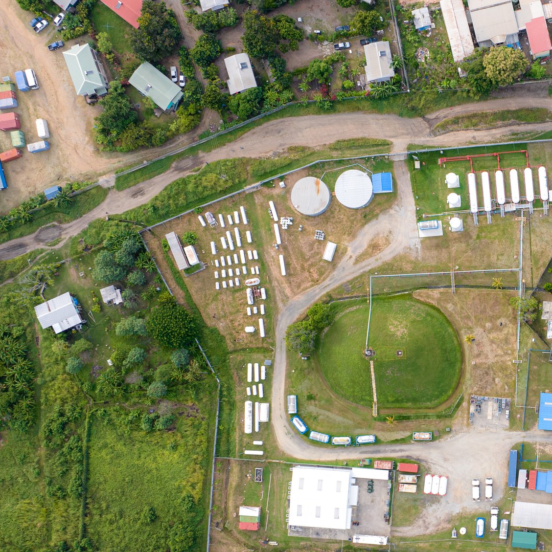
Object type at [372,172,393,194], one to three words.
building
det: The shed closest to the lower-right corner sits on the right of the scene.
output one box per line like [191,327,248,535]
[513,530,538,548]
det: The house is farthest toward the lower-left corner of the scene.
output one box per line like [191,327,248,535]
[35,292,86,333]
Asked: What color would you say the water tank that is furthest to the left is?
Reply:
white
